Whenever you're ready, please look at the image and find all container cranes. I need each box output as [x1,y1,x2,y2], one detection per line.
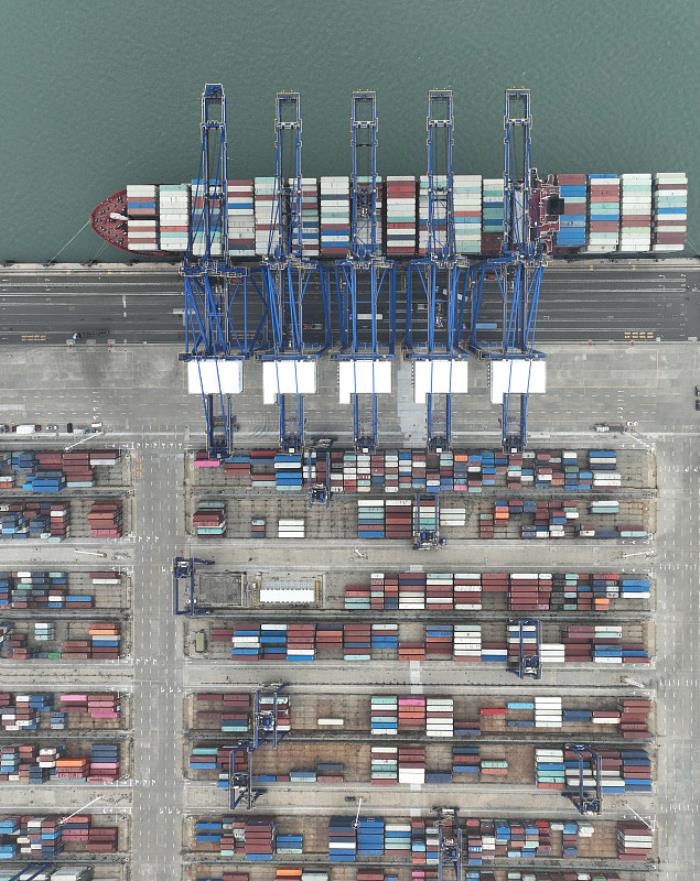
[256,83,332,462]
[255,671,287,750]
[172,544,209,617]
[229,729,263,810]
[468,82,549,460]
[432,803,463,881]
[507,607,542,680]
[565,731,602,815]
[331,83,399,457]
[182,83,264,462]
[398,83,472,460]
[409,489,441,551]
[306,441,337,509]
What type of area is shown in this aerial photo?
port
